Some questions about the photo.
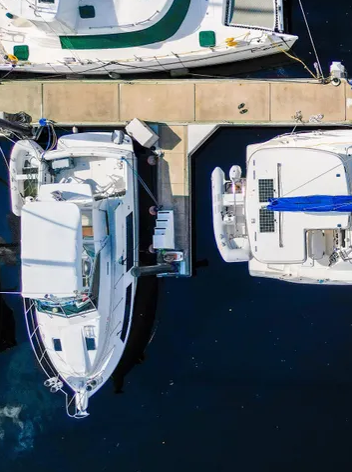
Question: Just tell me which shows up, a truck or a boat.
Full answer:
I can see a boat in this picture.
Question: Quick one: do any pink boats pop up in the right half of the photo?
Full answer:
No, in the right half of the photo there is no pink boat.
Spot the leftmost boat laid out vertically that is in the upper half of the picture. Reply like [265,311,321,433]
[8,137,44,216]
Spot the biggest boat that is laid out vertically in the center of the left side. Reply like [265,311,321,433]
[21,134,141,427]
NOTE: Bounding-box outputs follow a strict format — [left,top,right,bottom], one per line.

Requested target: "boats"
[0,0,299,72]
[214,161,250,263]
[233,128,352,285]
[21,134,141,427]
[8,137,44,216]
